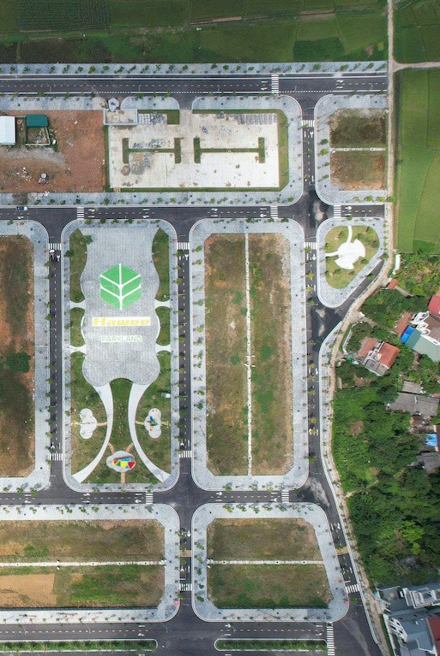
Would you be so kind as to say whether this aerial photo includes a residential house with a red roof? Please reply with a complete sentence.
Yes, looking at the shot, I can spot a residential house with a red roof.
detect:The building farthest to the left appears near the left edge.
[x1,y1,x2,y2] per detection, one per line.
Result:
[0,116,16,145]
